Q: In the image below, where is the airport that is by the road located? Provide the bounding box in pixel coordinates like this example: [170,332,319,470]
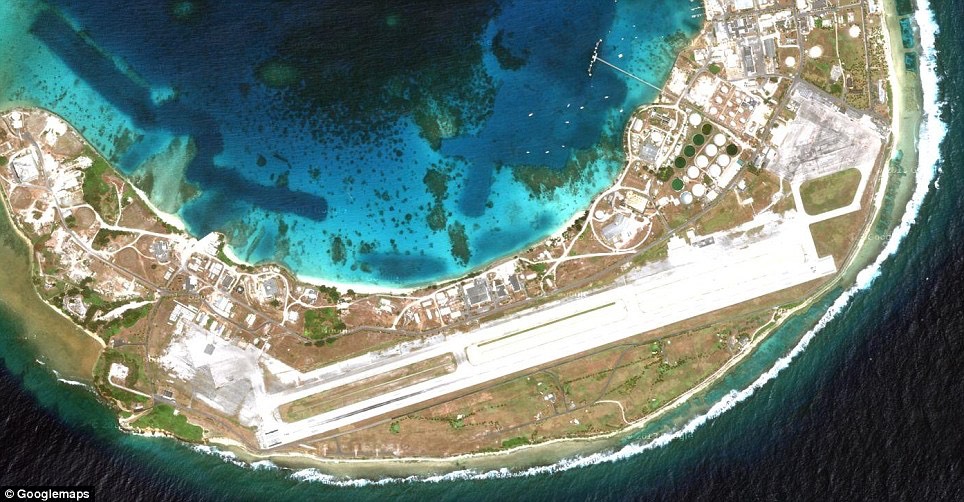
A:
[159,83,883,449]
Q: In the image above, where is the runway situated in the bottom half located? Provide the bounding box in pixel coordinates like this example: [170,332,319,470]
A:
[256,255,837,449]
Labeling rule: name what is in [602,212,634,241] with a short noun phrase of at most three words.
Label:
building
